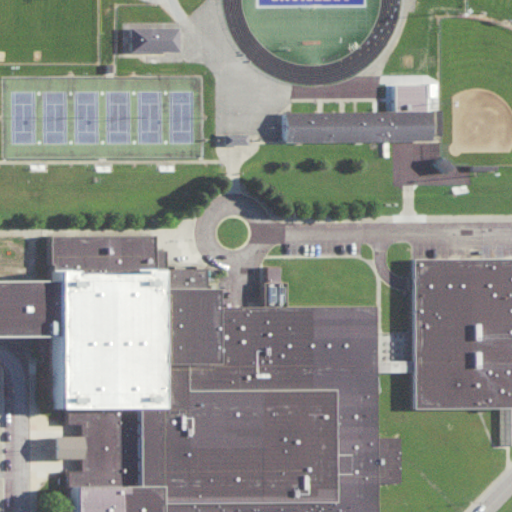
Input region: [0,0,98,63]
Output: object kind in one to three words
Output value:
sports field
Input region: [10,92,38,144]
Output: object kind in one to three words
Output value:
tennis court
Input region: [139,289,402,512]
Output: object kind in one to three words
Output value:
building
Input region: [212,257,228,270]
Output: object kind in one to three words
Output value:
vehicle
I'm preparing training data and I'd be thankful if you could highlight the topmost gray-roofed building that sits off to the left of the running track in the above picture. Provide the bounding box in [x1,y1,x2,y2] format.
[130,29,182,54]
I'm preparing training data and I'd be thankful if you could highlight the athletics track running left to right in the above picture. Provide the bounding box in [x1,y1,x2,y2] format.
[221,0,402,86]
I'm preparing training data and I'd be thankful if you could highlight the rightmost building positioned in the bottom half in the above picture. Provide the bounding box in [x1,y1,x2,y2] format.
[412,260,512,410]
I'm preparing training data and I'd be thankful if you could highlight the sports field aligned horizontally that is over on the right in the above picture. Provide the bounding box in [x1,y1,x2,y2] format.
[242,0,380,66]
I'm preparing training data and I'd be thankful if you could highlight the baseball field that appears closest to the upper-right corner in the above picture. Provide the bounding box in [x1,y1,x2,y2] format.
[439,18,512,164]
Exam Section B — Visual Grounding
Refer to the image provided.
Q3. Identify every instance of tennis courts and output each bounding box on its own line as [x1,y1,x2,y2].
[72,92,101,144]
[136,92,164,144]
[104,92,132,144]
[10,92,38,144]
[167,92,195,144]
[41,92,70,144]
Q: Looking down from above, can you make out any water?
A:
No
